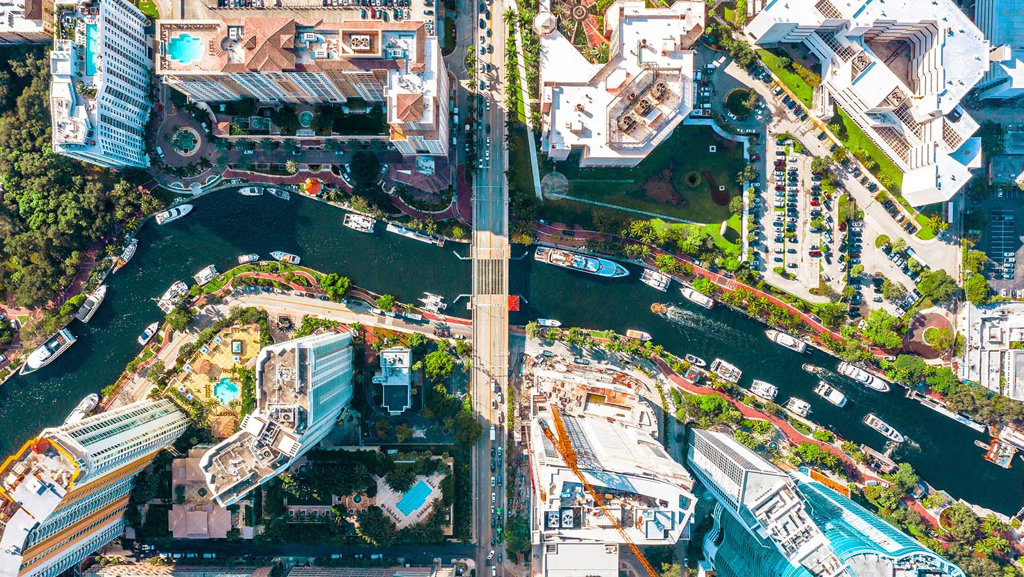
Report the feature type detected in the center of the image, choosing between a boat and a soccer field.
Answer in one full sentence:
Looking in the center of the image, you will find a boat.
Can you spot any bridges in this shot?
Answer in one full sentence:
Yes, a bridge can be made out from above.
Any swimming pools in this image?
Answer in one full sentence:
Yes, a swimming pool is visible in the scene.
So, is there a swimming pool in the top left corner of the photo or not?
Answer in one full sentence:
Yes, you'll find a swimming pool in the top left corner of the photo.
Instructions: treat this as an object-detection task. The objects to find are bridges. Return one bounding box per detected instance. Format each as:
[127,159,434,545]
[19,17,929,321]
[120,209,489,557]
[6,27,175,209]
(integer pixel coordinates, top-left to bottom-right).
[470,166,511,443]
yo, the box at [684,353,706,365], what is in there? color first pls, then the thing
white boat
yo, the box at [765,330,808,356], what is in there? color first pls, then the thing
white boat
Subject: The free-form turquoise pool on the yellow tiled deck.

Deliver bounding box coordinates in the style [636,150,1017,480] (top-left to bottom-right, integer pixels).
[213,376,239,405]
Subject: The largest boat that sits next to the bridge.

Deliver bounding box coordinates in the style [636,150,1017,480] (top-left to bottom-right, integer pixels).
[531,247,630,273]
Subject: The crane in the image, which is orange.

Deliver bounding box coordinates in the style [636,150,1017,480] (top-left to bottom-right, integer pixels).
[540,400,660,577]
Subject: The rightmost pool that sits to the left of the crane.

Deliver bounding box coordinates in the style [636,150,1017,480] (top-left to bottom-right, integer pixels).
[395,479,434,516]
